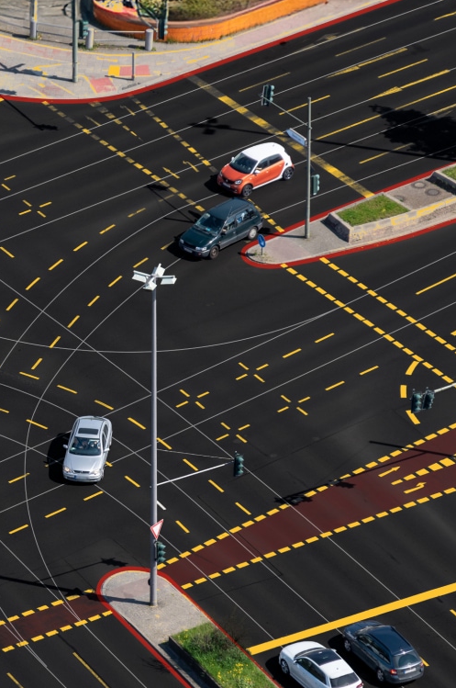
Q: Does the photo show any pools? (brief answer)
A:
No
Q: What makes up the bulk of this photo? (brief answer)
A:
paved ground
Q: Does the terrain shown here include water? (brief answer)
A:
No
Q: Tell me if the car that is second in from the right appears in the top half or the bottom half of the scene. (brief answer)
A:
bottom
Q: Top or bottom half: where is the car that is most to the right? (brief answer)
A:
bottom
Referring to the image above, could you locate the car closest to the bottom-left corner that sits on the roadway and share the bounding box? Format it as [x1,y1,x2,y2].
[61,418,111,481]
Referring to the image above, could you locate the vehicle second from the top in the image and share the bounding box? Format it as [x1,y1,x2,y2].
[179,198,262,262]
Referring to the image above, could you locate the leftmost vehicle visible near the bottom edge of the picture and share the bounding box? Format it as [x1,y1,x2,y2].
[281,644,362,688]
